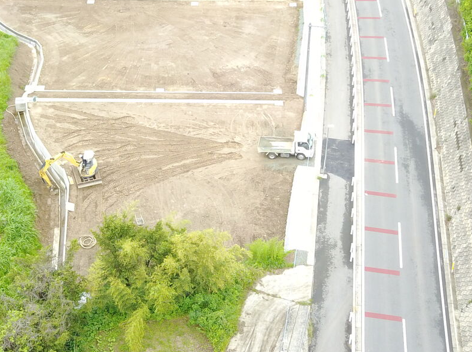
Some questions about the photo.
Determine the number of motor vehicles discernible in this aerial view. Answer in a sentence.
Altogether the scene contains 2 motor vehicles.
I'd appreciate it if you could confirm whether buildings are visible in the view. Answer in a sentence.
No, no building is visible in the scene.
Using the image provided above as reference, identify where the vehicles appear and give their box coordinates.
[258,131,315,163]
[39,147,98,192]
